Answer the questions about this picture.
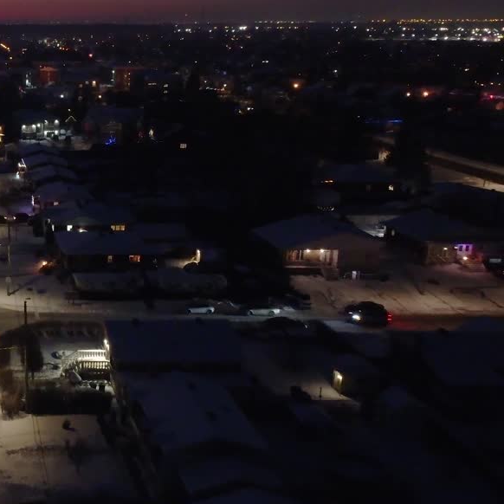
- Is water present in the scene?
No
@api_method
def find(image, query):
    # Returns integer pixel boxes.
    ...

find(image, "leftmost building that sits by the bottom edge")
[122,385,295,496]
